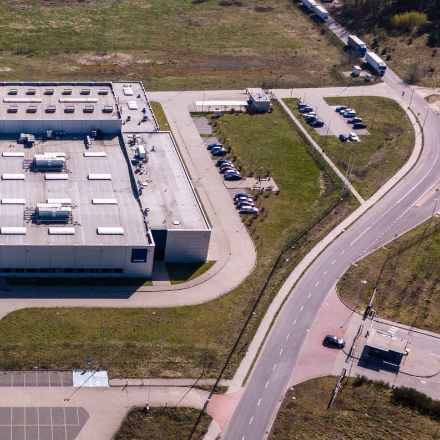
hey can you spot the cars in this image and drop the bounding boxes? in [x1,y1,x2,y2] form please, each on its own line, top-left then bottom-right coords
[225,170,240,175]
[353,124,366,129]
[300,107,314,113]
[238,201,254,208]
[339,109,353,114]
[306,115,318,122]
[335,106,347,112]
[234,193,252,200]
[240,206,259,213]
[310,121,323,127]
[302,112,316,118]
[337,134,350,141]
[207,143,223,149]
[212,150,228,157]
[222,165,236,172]
[322,335,345,347]
[216,159,232,165]
[296,103,310,109]
[346,134,360,141]
[212,147,225,152]
[342,111,357,118]
[347,118,363,124]
[225,173,241,180]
